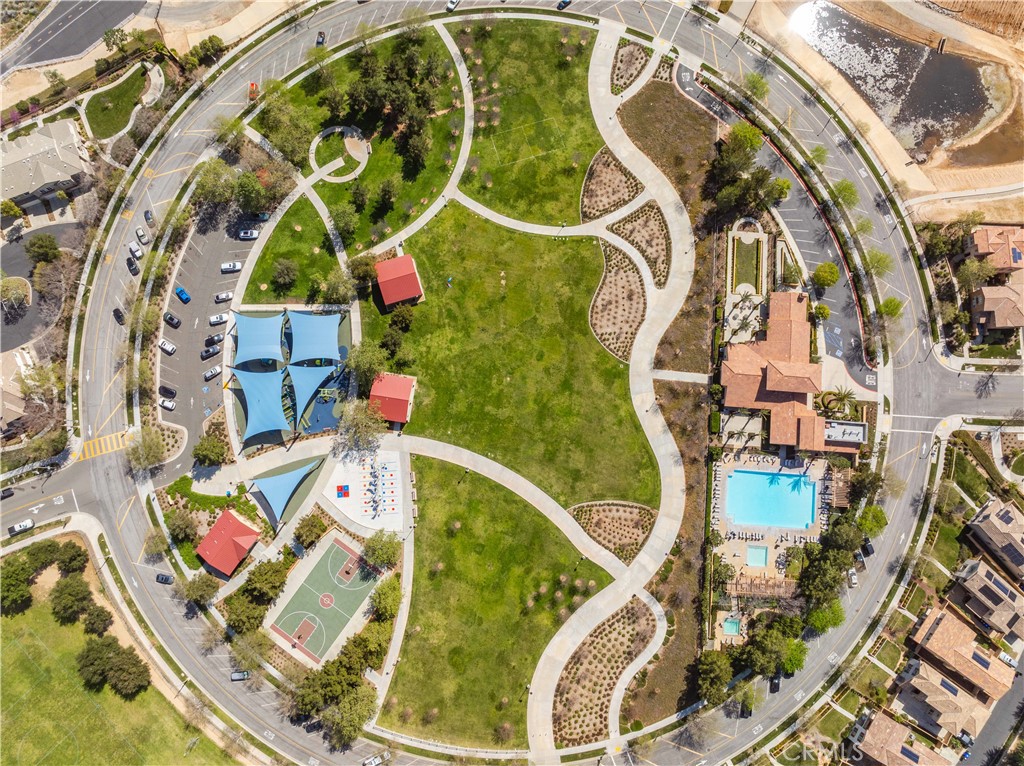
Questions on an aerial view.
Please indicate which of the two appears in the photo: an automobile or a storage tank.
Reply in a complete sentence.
Visible in the photo is an automobile.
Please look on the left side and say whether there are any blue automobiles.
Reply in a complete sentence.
Yes, on the left side there is a blue automobile.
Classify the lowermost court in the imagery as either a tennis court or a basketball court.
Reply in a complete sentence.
I'd say the lowermost court is a basketball court.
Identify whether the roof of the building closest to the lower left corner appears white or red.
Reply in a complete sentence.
The color of the roof of the building closest to the lower left corner is red.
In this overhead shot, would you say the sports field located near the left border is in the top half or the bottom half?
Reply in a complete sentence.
The sports field located near the left border is in the bottom half of the image.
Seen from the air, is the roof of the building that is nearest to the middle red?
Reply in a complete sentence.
Yes, red is the color of the roof of the building that is nearest to the middle.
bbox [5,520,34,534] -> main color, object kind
white vehicle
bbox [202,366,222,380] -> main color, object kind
white car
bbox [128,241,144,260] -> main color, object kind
white car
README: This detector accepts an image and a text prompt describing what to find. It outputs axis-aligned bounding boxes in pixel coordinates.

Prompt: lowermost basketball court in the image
[261,542,393,670]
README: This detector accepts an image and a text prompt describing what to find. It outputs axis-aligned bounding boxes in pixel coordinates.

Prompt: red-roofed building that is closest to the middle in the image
[374,373,419,426]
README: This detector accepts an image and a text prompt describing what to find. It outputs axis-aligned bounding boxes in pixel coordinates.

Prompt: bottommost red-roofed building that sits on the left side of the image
[197,510,261,580]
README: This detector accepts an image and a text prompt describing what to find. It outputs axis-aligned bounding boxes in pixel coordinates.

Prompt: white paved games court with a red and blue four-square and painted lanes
[324,451,403,532]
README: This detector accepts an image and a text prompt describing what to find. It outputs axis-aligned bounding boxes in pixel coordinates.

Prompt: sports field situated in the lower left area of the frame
[0,630,144,766]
